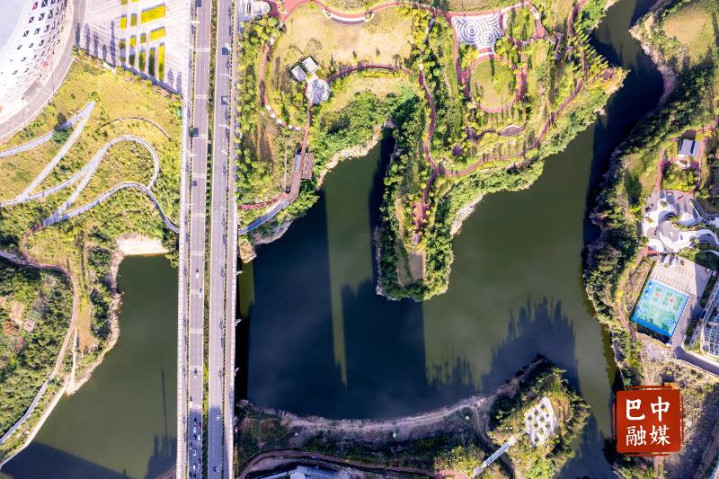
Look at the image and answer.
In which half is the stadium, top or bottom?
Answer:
top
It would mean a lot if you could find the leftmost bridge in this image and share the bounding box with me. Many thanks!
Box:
[175,0,243,479]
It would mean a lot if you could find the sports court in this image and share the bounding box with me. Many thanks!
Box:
[632,279,691,338]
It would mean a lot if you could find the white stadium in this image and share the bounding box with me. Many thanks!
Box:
[0,0,66,110]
